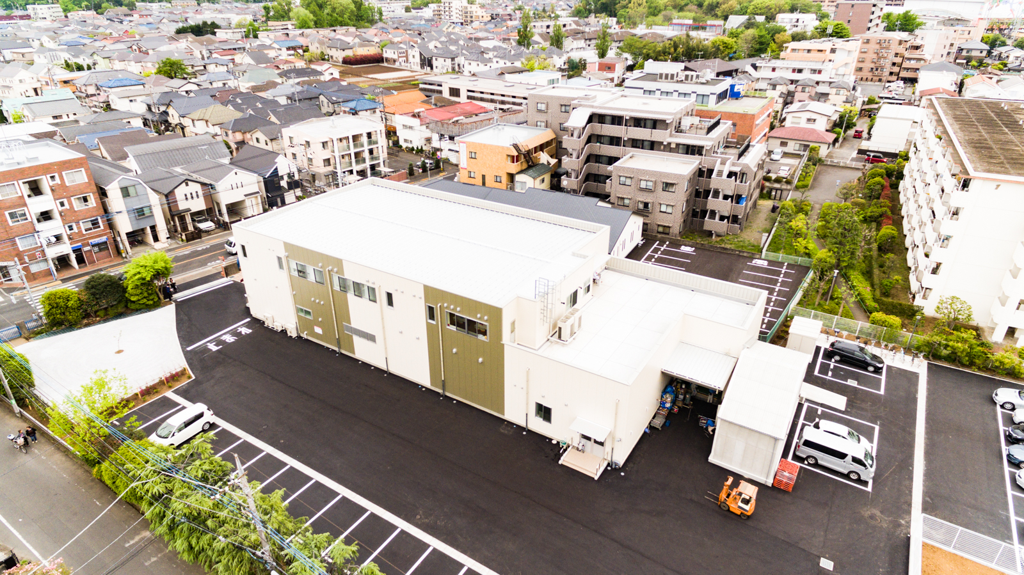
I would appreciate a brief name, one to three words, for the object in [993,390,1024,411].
car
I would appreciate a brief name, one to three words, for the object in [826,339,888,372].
car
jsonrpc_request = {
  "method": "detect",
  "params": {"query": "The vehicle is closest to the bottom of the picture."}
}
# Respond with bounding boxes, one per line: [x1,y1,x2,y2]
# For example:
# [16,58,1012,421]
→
[699,476,761,521]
